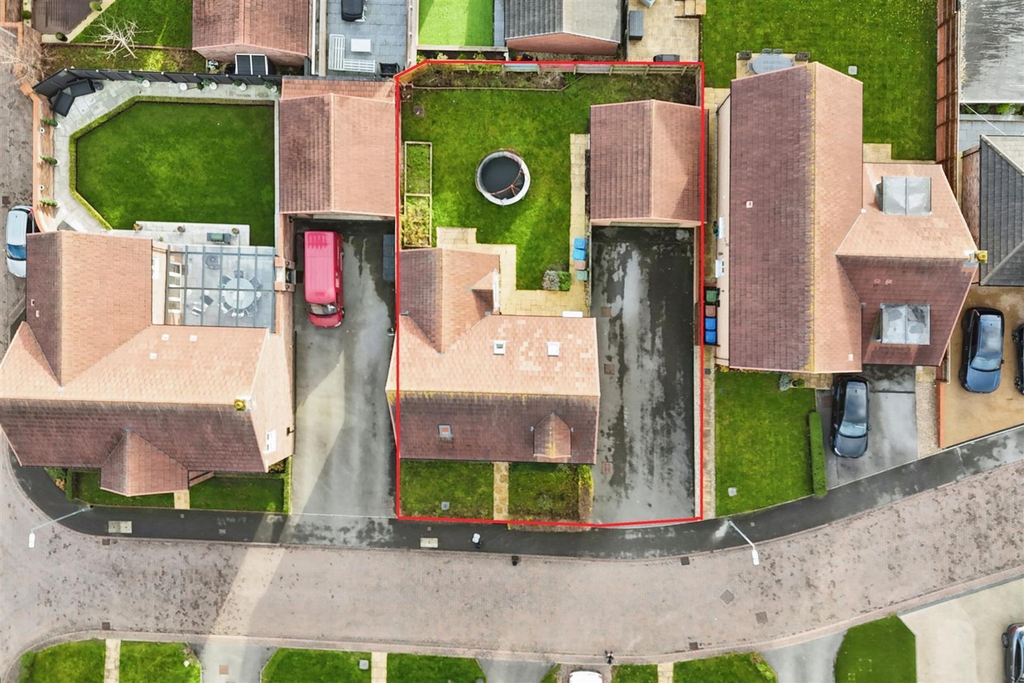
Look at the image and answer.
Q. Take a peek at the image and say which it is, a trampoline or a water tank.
trampoline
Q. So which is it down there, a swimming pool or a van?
van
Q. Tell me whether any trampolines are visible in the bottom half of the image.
No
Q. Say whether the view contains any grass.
Yes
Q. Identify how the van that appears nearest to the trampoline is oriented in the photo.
vertically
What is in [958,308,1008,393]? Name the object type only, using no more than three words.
car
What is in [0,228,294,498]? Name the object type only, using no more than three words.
house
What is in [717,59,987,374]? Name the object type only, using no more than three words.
house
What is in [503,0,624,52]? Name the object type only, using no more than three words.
building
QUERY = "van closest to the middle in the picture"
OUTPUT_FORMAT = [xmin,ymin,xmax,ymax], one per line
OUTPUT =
[302,231,347,326]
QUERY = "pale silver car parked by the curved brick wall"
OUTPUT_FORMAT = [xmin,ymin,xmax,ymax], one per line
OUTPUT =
[5,208,48,281]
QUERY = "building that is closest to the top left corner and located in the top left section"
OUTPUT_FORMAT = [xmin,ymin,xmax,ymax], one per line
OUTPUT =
[191,0,316,63]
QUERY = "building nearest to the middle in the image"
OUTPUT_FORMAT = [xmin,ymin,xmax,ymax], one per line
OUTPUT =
[386,246,602,463]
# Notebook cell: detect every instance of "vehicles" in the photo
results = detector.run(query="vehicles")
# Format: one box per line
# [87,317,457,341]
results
[829,374,875,459]
[302,231,347,326]
[5,208,48,281]
[1011,314,1024,400]
[958,308,1008,393]
[998,620,1024,683]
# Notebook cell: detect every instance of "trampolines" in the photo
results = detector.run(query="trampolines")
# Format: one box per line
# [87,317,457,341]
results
[476,151,529,205]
